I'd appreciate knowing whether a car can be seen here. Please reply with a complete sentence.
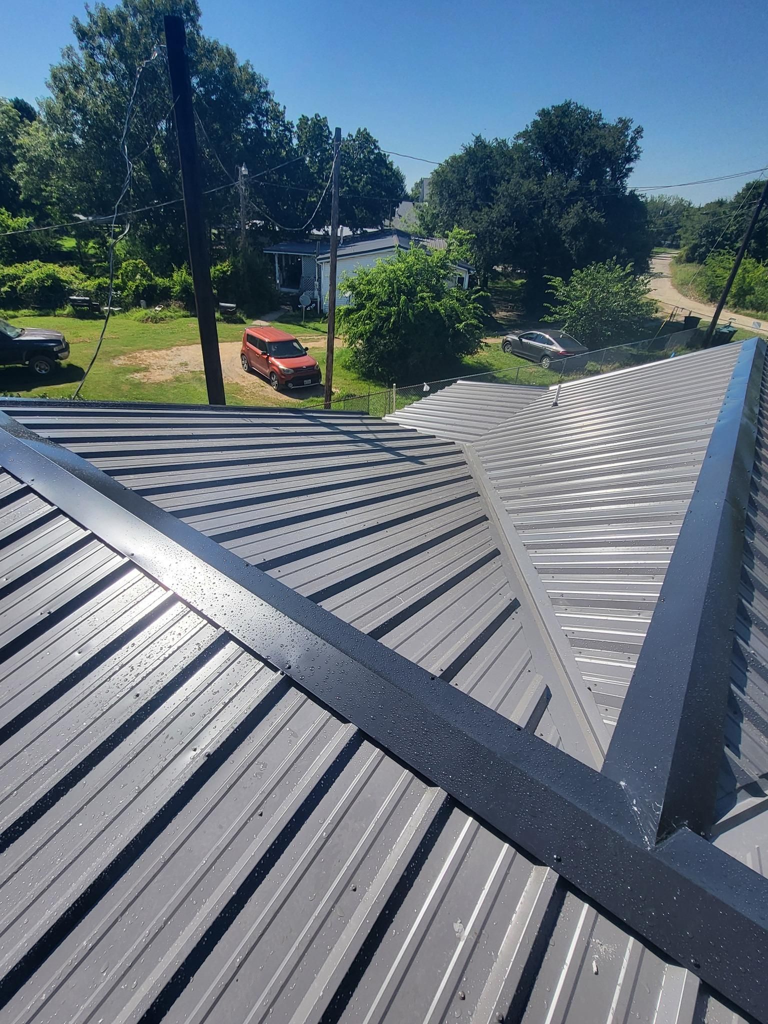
Yes, the image includes a car.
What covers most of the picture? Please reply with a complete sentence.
The bulk of the photo consists of buildings.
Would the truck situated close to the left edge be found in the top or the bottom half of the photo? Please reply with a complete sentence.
It is in the top half that the truck situated close to the left edge appears.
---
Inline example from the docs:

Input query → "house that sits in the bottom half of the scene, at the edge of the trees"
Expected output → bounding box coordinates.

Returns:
[0,339,768,1024]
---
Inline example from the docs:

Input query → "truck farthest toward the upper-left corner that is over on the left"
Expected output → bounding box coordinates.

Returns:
[0,315,75,374]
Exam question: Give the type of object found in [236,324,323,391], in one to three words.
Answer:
car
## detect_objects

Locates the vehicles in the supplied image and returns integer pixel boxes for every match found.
[0,315,75,374]
[236,324,323,391]
[503,330,590,369]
